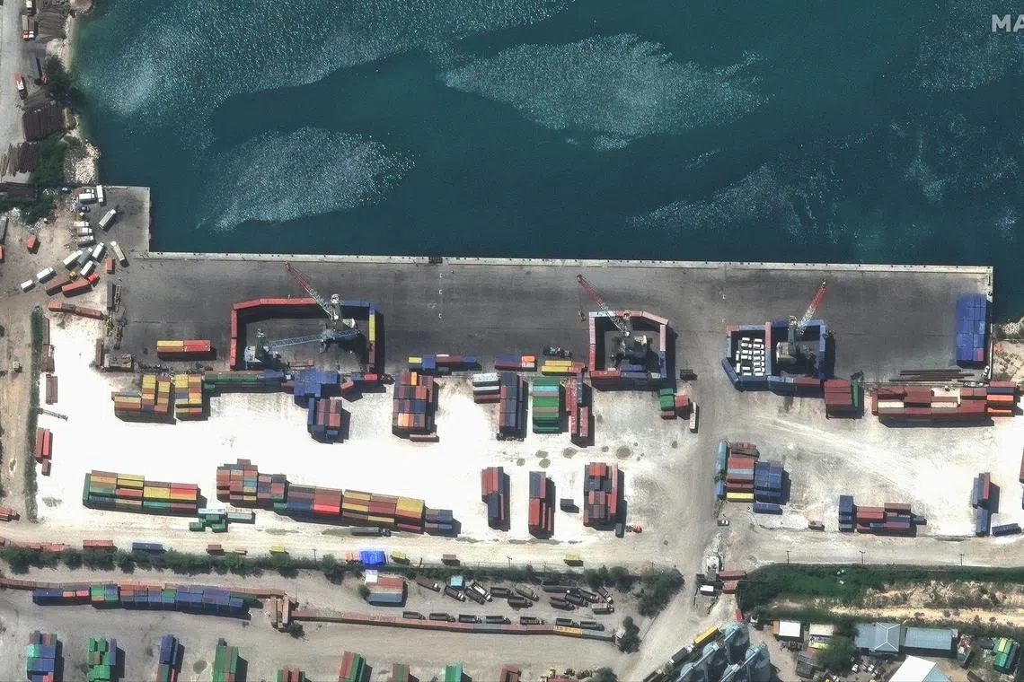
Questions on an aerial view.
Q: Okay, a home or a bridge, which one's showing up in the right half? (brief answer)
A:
home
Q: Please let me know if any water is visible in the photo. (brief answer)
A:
Yes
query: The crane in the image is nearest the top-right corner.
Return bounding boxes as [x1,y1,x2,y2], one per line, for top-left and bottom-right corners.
[775,279,827,375]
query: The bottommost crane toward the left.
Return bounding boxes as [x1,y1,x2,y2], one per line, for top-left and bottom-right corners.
[242,328,360,372]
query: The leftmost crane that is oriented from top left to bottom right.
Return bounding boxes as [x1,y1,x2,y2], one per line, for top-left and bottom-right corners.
[285,261,365,345]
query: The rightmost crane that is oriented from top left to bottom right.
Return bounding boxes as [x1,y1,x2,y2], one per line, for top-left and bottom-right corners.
[577,274,651,364]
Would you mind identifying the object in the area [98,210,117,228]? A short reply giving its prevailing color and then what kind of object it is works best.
white vehicle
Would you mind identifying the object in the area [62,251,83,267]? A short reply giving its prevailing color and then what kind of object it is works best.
white vehicle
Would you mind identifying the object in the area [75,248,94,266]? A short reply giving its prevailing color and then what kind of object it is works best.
gray vehicle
